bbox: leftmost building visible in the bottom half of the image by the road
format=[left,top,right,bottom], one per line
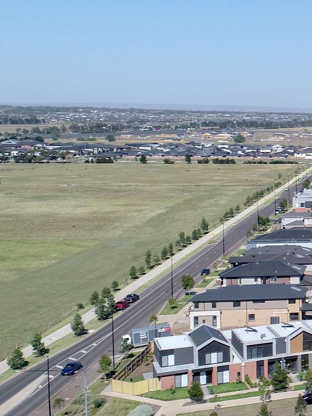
[154,319,238,390]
